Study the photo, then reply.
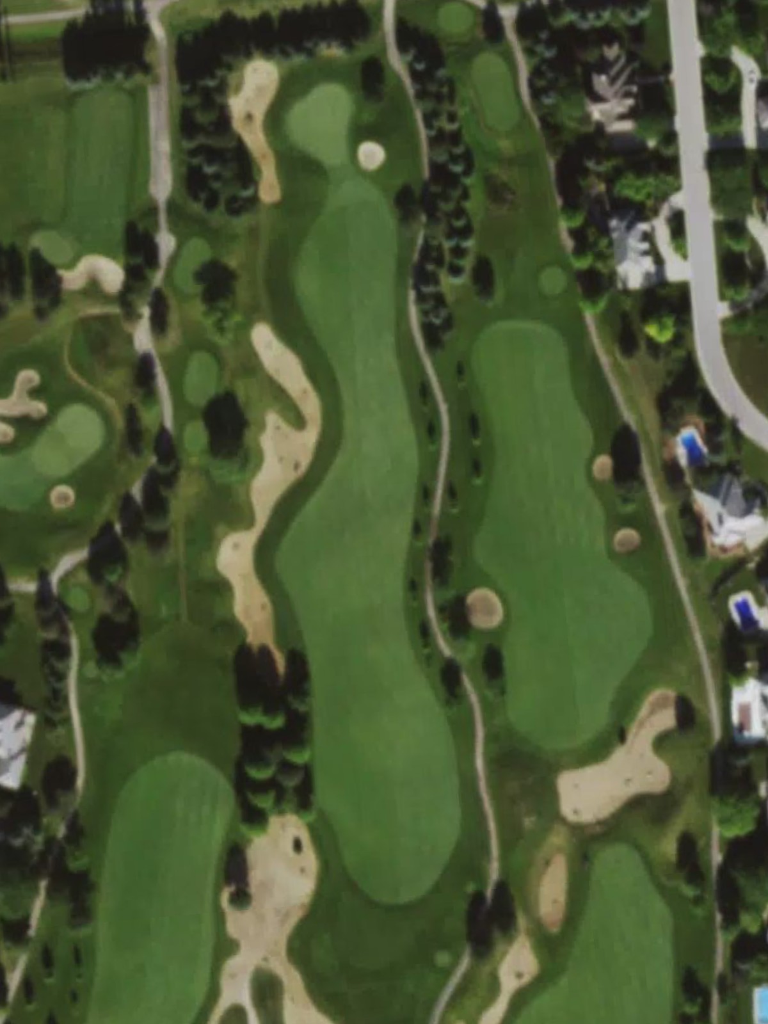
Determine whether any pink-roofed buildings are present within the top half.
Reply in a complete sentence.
No, I can find no pink-roofed building within the top half.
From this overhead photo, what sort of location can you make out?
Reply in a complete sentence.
This looks like a golf course.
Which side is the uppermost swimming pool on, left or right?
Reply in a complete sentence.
You can find the uppermost swimming pool on the right side of the picture.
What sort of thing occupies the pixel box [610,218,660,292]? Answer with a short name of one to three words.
house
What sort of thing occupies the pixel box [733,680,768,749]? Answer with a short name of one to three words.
house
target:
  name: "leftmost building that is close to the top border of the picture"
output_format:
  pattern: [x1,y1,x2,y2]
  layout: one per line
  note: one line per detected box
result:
[589,39,644,119]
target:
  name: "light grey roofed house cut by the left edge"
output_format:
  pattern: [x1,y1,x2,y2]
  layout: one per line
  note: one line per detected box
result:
[0,706,38,789]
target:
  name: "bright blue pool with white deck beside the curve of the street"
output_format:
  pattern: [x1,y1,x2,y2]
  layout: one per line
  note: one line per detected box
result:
[675,425,709,470]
